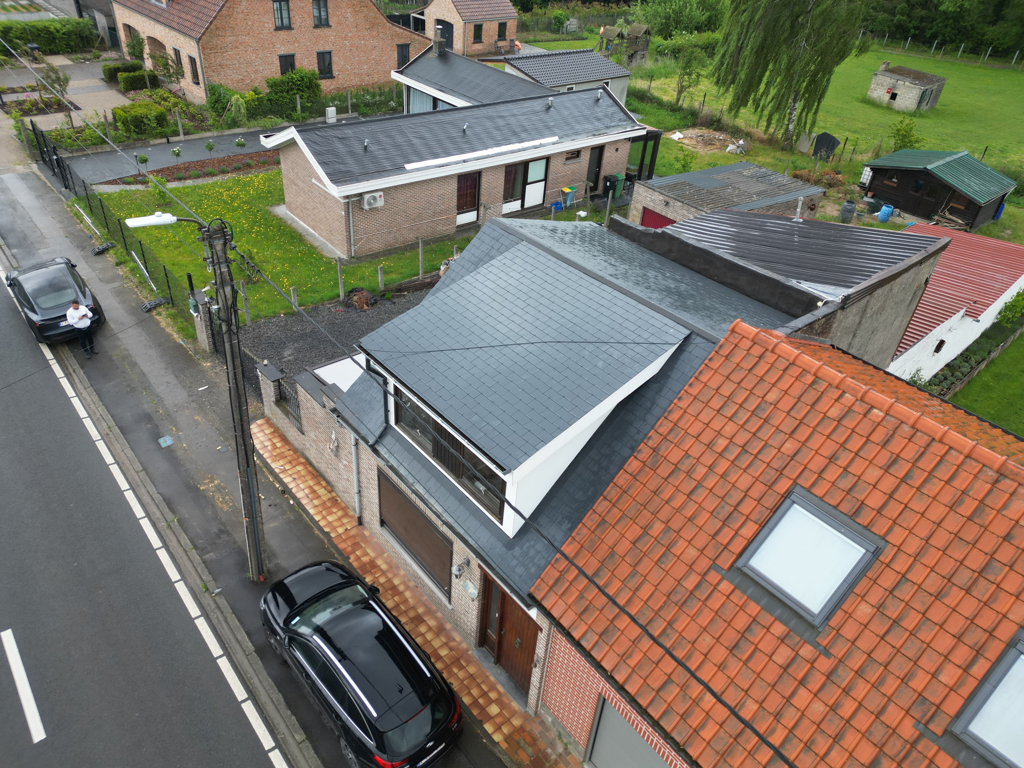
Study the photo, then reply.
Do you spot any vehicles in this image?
Yes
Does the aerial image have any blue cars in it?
No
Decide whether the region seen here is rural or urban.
urban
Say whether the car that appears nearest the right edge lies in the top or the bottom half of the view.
bottom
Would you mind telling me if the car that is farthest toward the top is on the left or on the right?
left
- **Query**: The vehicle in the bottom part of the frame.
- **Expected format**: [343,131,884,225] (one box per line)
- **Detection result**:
[258,563,466,768]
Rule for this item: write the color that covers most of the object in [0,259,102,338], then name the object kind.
gray car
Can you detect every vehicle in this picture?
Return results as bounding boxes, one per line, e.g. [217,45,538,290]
[0,259,102,338]
[258,563,466,768]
